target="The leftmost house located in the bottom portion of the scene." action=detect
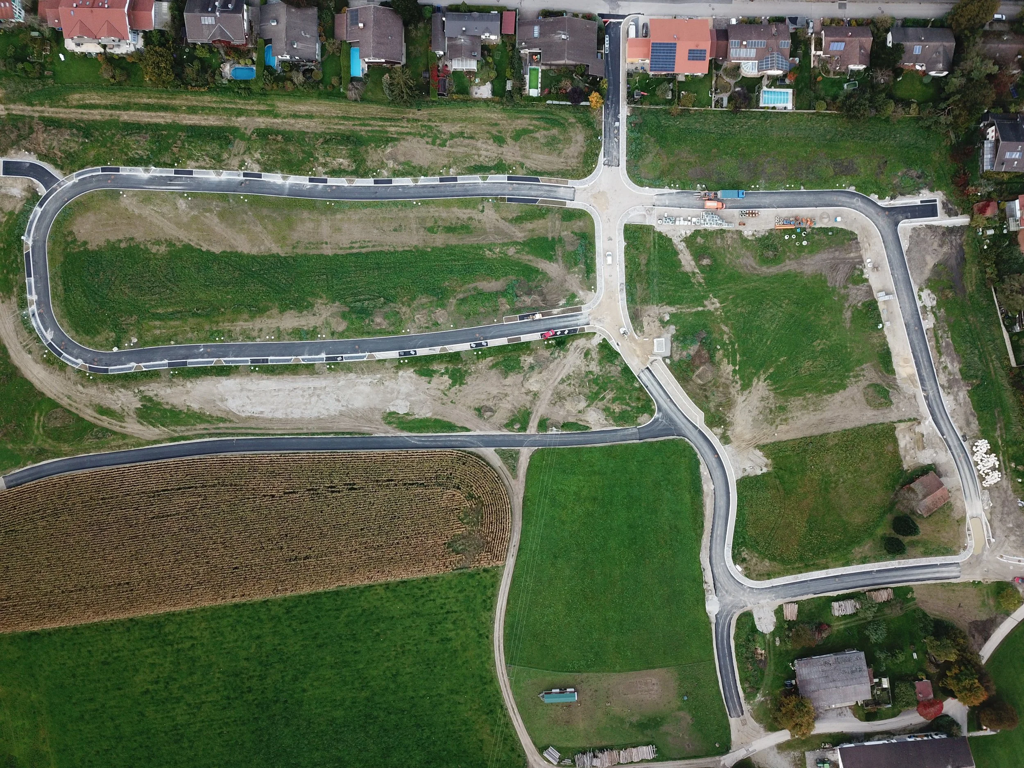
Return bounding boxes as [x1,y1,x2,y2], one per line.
[793,648,873,711]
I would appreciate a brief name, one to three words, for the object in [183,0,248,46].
house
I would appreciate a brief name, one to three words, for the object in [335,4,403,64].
house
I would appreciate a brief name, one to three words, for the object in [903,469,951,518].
barn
